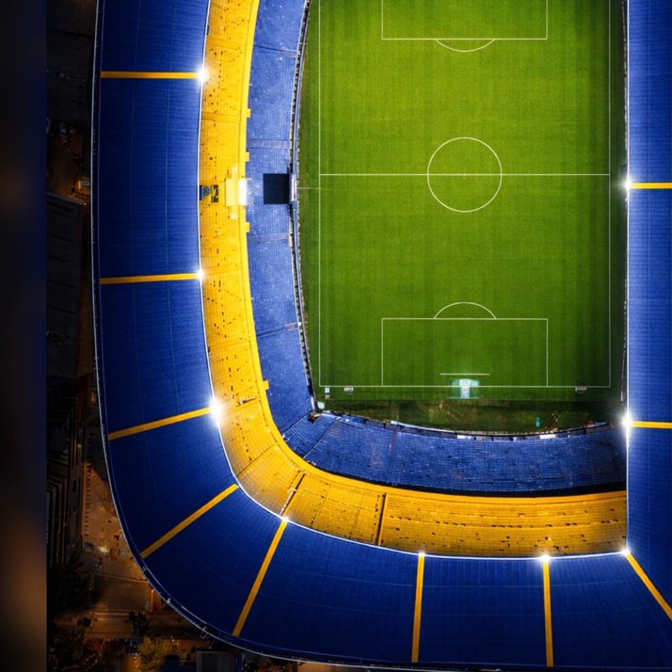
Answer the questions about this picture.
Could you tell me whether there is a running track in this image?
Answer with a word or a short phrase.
No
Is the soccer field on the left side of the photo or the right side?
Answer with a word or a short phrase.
right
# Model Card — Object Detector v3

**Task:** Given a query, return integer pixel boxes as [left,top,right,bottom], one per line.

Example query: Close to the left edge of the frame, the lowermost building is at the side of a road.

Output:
[29,392,90,573]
